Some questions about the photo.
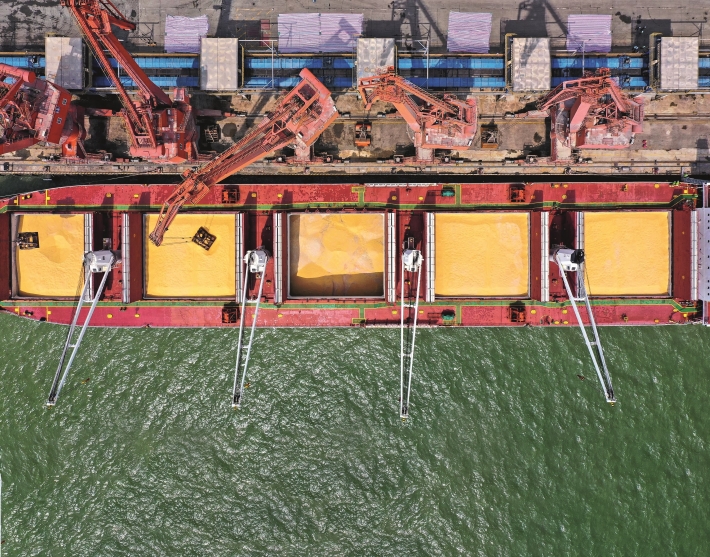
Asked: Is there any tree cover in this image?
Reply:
No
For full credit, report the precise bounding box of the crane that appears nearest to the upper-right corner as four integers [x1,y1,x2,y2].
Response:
[491,71,646,166]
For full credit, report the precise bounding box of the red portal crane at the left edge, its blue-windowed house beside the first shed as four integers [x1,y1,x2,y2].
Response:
[0,69,115,166]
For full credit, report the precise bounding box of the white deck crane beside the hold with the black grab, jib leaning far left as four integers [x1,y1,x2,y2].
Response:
[44,243,122,407]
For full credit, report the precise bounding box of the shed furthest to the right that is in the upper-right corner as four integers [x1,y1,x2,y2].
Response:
[620,35,710,100]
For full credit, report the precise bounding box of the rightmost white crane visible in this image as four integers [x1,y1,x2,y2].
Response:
[549,243,618,406]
